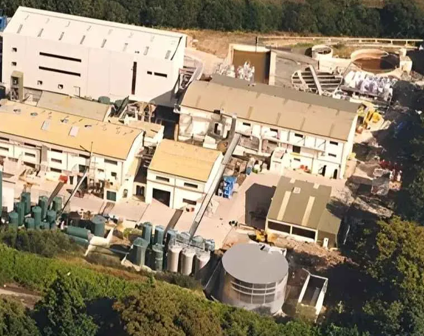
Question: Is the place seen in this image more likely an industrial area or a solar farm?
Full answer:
The area seen from above is an industrial area.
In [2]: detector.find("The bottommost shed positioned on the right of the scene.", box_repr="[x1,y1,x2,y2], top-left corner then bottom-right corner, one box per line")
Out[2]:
[266,183,342,242]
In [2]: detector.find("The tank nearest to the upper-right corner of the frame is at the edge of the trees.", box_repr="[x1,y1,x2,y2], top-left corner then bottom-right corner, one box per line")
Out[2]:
[353,41,412,76]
